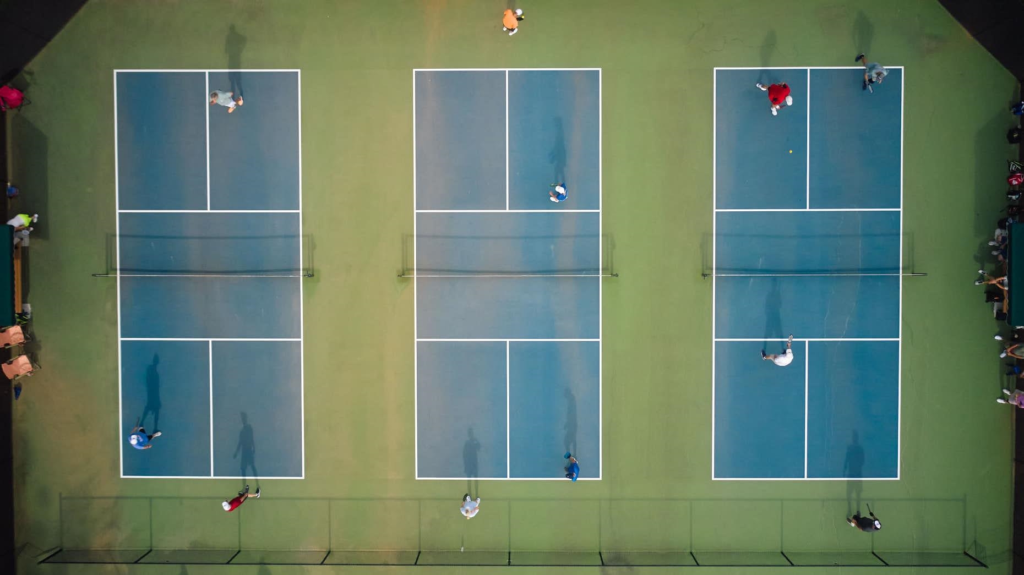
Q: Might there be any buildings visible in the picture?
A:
No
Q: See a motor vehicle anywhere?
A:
No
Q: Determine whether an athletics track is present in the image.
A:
No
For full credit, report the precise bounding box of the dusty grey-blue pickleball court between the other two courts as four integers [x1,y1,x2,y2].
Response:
[414,68,601,479]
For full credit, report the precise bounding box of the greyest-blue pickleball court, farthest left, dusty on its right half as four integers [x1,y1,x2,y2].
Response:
[114,69,304,478]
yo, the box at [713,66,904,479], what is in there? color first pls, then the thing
blue sports court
